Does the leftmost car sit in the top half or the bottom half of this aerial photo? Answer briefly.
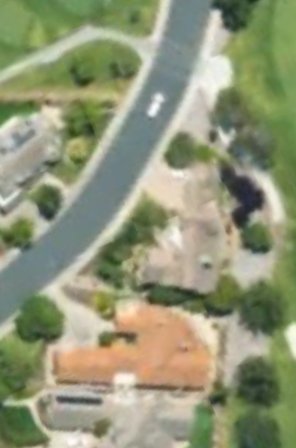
top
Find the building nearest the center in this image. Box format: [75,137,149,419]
[140,174,226,291]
